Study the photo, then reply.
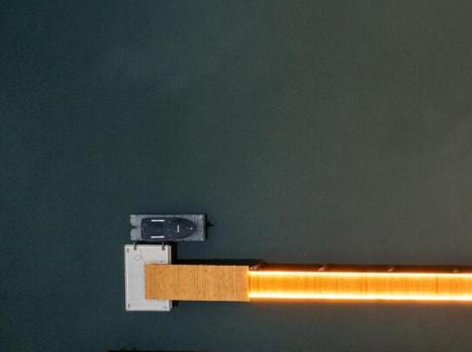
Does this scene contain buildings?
No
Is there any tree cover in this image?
No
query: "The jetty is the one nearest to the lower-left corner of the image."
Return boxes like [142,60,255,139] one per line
[126,243,175,311]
